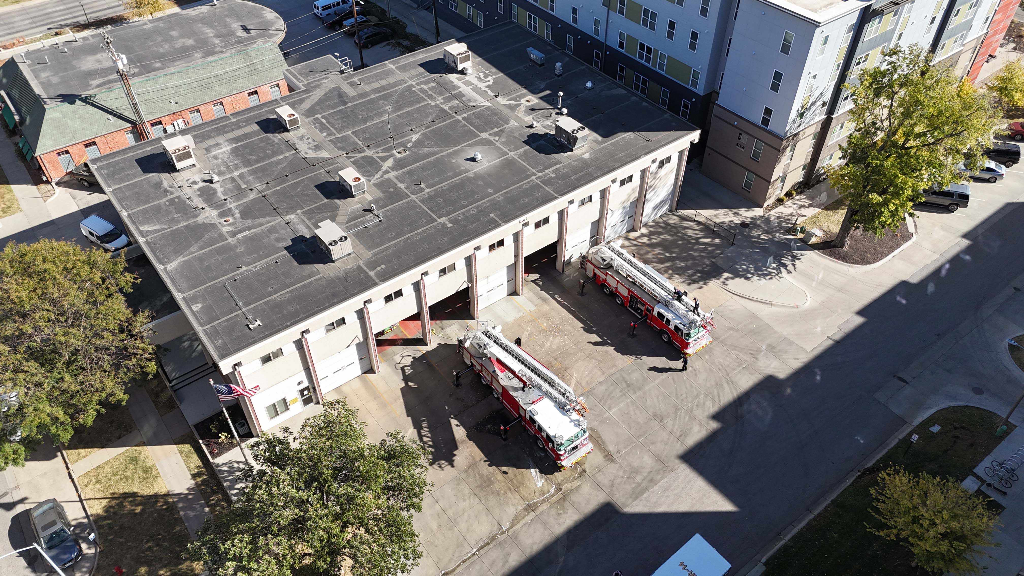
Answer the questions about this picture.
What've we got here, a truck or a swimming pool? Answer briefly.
truck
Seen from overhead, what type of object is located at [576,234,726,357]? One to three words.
truck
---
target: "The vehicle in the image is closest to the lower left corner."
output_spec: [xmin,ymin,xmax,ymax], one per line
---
[29,500,89,574]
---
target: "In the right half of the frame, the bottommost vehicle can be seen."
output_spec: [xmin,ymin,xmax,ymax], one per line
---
[648,534,731,576]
